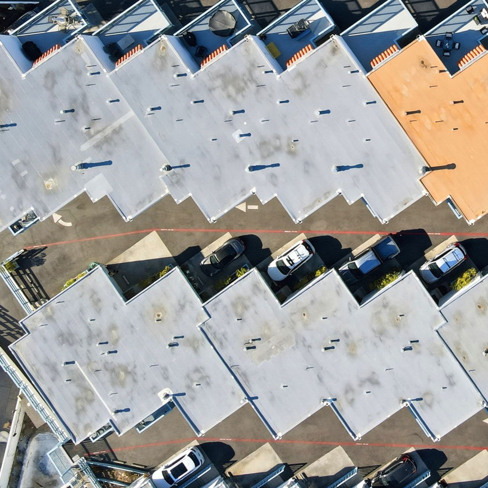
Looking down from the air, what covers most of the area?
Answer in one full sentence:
Most of the picture is covered by buildings.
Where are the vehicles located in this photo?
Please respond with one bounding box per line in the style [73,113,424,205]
[415,241,471,286]
[195,234,252,280]
[264,238,319,284]
[149,443,208,488]
[367,452,422,488]
[338,232,403,285]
